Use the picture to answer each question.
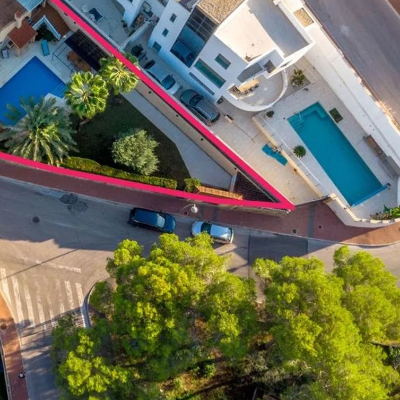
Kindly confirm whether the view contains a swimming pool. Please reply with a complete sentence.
Yes, the picture does show a swimming pool.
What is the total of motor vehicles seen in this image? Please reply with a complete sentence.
The picture shows 4 motor vehicles.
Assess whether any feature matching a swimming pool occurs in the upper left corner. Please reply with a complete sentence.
Yes, a swimming pool is visible in the upper left corner.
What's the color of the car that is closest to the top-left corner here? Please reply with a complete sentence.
The color of the car that is closest to the top-left corner is blue.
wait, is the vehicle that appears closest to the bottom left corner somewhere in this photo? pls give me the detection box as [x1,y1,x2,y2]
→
[125,205,178,234]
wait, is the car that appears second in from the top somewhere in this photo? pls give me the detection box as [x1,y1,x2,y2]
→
[175,86,225,127]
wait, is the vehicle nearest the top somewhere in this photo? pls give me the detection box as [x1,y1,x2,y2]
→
[139,56,180,97]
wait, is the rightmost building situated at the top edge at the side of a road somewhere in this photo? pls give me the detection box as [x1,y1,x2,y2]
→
[150,0,315,124]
